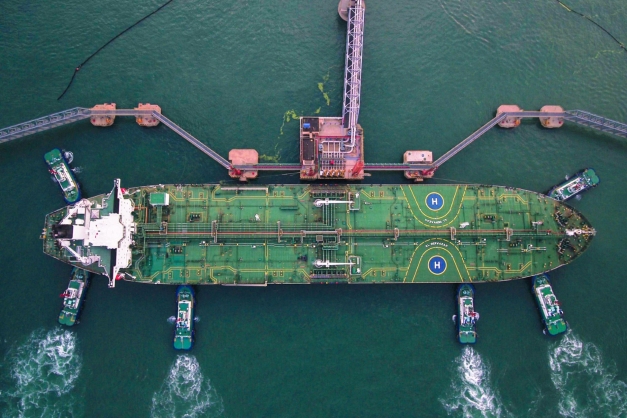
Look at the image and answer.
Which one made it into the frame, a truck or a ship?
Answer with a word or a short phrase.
ship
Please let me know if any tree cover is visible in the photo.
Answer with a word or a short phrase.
No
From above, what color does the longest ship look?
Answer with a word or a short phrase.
green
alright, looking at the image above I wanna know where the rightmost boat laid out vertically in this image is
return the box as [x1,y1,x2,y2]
[533,273,566,338]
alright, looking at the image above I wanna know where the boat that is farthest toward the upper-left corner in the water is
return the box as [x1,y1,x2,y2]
[42,147,81,205]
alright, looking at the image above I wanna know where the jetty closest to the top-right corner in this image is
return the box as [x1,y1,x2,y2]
[338,0,365,23]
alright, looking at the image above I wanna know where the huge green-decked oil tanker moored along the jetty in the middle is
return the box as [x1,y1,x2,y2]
[40,178,599,287]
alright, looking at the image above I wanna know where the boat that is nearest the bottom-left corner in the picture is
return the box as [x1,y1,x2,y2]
[55,265,88,327]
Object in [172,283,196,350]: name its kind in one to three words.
boat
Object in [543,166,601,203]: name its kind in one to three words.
boat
